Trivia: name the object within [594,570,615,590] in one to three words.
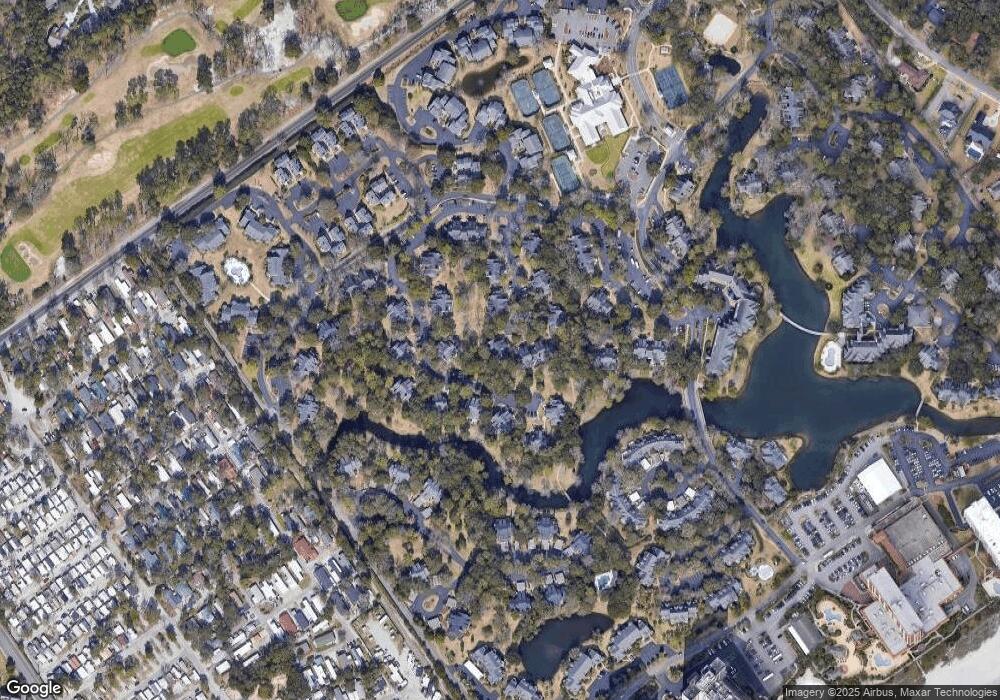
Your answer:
swimming pool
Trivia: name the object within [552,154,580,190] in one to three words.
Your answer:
tennis court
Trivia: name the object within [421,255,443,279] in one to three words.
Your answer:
house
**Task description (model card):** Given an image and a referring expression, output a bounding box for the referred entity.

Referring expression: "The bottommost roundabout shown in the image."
[412,585,450,618]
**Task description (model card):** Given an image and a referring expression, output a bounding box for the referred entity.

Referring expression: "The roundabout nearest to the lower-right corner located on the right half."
[640,464,689,499]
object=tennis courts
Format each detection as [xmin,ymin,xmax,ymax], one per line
[511,77,539,116]
[542,112,571,149]
[531,67,562,105]
[552,154,580,190]
[654,65,688,107]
